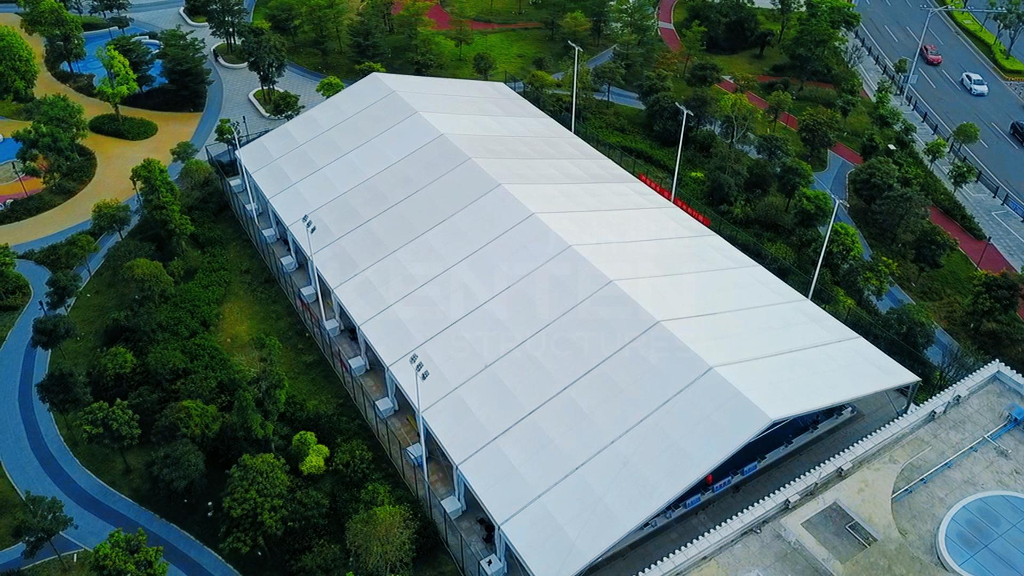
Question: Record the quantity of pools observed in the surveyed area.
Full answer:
The picture shows no pools.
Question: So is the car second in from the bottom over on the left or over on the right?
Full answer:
The car second in from the bottom is on the right side of the image.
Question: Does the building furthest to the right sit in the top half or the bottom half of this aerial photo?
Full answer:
The building furthest to the right sits in the bottom half of the picture.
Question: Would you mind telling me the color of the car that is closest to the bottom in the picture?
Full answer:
From above, the car that is closest to the bottom appears black.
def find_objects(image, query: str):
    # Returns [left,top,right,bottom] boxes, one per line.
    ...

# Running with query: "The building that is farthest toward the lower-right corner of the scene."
[635,359,1024,576]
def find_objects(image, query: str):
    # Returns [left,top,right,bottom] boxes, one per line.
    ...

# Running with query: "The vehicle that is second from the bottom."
[960,74,989,95]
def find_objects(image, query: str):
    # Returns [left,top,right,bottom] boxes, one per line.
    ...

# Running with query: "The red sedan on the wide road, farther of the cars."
[920,46,944,65]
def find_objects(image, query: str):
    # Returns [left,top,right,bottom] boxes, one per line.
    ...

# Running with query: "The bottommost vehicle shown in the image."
[1004,119,1024,143]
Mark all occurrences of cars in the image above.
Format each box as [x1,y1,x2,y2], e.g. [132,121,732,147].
[920,46,944,65]
[960,74,989,95]
[1004,119,1024,143]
